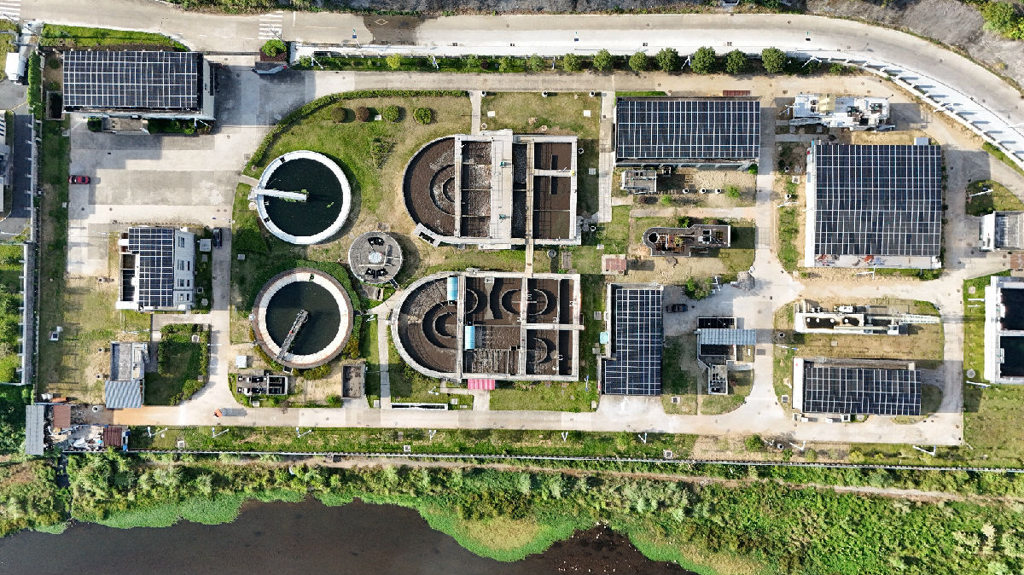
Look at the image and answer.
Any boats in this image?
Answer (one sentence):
No, I can see no boat in this picture.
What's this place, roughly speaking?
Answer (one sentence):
The picture captures an industrial area.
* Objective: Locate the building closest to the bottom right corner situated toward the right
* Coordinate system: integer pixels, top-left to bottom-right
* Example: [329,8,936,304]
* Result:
[785,356,921,415]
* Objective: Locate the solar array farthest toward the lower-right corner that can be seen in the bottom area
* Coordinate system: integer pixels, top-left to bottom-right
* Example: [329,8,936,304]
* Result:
[805,368,921,415]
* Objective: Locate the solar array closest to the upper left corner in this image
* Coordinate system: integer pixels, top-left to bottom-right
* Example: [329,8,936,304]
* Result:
[64,51,197,108]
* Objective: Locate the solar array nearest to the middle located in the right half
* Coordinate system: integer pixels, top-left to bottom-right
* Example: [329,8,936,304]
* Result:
[605,289,662,395]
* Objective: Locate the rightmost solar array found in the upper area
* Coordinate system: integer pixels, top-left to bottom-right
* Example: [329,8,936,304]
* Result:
[815,145,942,256]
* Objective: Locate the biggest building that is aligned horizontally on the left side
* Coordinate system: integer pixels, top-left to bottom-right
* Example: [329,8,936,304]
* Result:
[64,51,214,119]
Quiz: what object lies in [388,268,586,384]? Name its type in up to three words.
water tank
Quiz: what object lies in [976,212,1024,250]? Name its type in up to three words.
building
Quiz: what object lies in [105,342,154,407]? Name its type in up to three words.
shed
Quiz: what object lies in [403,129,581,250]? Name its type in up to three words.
water tank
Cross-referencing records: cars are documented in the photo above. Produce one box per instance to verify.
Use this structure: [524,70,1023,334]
[665,304,687,312]
[70,175,91,184]
[212,228,222,248]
